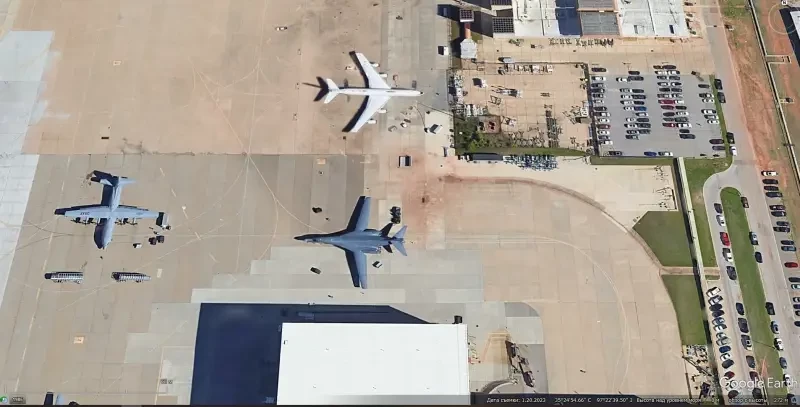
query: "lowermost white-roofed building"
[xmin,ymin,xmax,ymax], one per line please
[278,322,470,407]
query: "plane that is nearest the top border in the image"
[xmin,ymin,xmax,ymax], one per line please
[324,53,423,131]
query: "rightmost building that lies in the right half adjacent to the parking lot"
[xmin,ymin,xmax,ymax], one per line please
[617,0,692,40]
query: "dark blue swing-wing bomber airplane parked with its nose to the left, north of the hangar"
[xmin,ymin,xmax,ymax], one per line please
[303,196,408,289]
